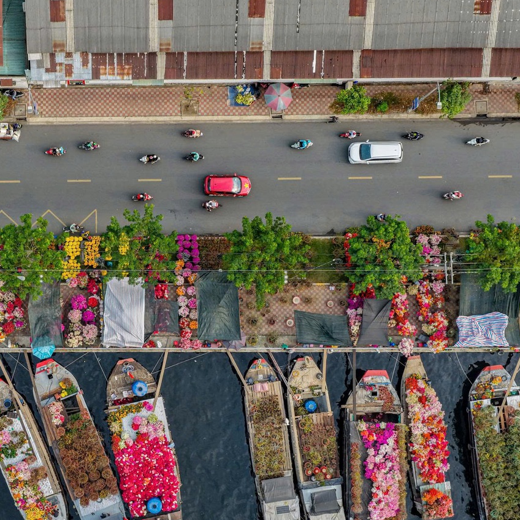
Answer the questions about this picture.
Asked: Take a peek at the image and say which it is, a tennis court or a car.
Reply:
car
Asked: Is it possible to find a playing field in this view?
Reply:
No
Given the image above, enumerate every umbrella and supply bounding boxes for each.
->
[222,332,244,353]
[264,84,292,113]
[31,339,55,363]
